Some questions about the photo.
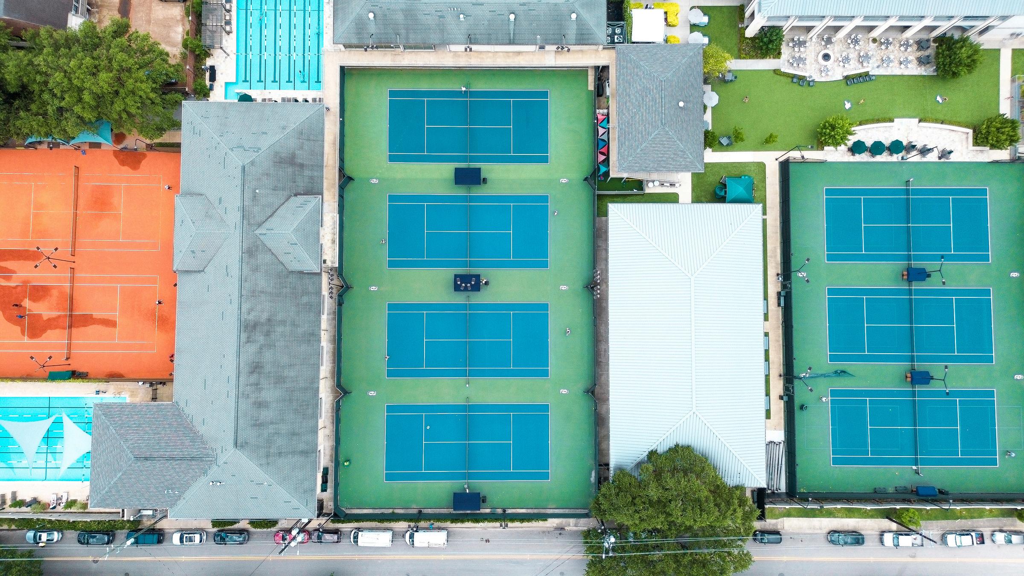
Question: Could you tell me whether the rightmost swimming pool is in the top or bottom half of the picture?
top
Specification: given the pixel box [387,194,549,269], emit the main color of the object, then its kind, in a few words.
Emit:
blue tennis court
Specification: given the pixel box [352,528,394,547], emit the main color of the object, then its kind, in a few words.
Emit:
white vehicle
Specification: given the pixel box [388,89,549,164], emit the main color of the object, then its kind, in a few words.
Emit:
blue tennis court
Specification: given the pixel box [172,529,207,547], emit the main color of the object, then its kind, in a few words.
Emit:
white car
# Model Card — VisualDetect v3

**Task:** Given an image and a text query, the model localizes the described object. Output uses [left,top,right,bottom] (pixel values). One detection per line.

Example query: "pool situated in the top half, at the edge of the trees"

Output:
[222,0,324,101]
